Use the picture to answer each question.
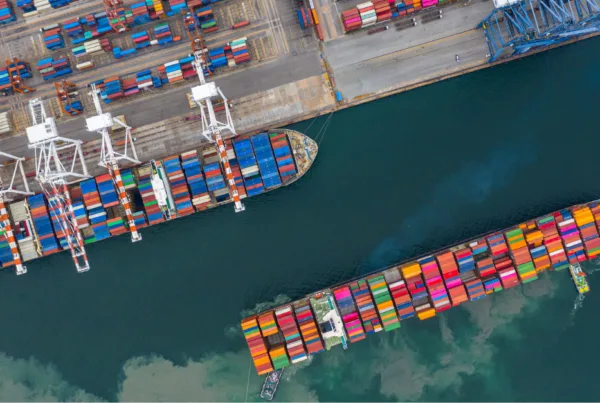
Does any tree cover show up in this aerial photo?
No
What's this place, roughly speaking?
port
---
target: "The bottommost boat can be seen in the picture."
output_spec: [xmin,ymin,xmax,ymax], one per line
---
[261,367,279,401]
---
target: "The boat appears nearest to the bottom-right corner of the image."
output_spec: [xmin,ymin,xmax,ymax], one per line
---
[569,266,591,295]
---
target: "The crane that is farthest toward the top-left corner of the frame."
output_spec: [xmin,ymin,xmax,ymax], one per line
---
[2,53,40,93]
